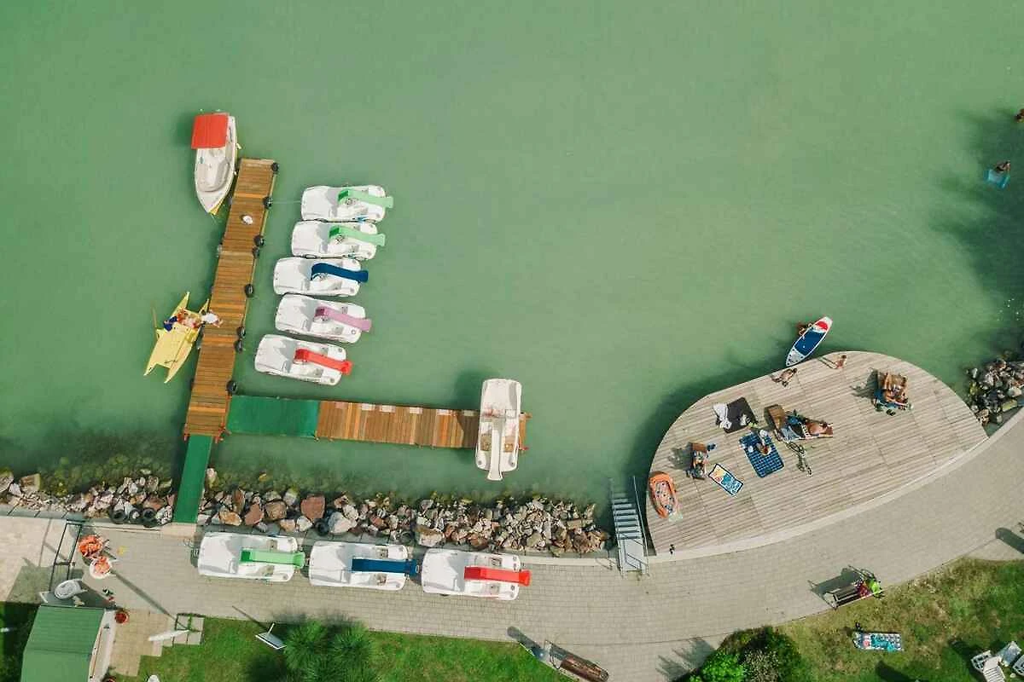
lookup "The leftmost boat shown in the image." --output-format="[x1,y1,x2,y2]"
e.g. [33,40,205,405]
[143,293,210,383]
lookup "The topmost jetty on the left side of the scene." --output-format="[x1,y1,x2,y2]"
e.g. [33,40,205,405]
[180,158,528,450]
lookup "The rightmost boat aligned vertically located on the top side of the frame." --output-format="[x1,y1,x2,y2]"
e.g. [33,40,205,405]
[193,111,245,215]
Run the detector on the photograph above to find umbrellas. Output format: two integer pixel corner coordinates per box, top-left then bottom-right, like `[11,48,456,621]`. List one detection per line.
[150,629,192,641]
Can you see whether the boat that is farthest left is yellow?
Yes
